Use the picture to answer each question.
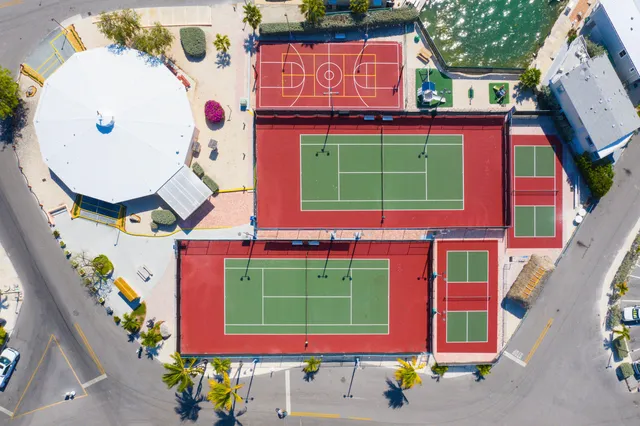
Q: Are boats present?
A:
No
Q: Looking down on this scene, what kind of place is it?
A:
sports ground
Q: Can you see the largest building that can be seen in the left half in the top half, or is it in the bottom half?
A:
top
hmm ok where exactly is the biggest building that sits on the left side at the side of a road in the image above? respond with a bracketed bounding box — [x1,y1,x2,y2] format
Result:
[35,46,199,206]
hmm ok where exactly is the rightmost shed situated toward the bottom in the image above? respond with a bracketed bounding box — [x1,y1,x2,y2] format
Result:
[502,249,553,311]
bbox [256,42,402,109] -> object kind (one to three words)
basketball court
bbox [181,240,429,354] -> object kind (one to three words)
tennis court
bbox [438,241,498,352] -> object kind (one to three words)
sports court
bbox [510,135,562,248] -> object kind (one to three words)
sports court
